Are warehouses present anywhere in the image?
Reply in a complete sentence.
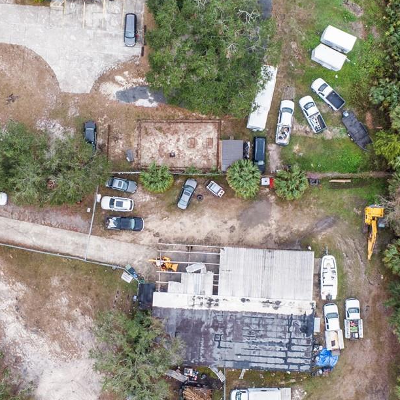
Yes, the picture does show a warehouse.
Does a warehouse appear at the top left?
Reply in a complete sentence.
No, no warehouse appears at the top left.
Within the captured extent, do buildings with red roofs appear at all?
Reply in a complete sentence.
No, there is no building with a red roof in the image.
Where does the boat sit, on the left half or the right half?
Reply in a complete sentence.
The boat appears in the right half of the scene.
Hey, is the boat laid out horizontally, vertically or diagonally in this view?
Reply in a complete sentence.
I'd say the boat is aligned vertically in the picture.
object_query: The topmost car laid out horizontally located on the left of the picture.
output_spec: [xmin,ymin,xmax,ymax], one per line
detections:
[105,176,138,193]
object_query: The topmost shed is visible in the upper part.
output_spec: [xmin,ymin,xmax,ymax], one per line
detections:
[221,140,243,170]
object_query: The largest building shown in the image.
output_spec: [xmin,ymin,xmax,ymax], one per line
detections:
[152,247,319,371]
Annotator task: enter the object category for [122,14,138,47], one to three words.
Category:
vehicle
